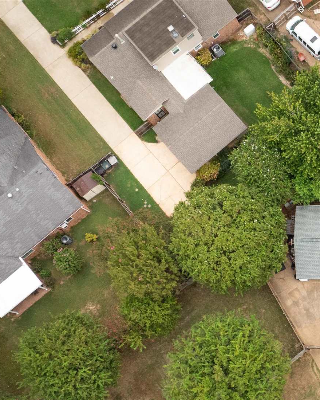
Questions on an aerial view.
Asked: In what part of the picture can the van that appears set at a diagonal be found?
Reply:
top right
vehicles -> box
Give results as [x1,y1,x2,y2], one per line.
[283,10,320,61]
[256,0,277,12]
